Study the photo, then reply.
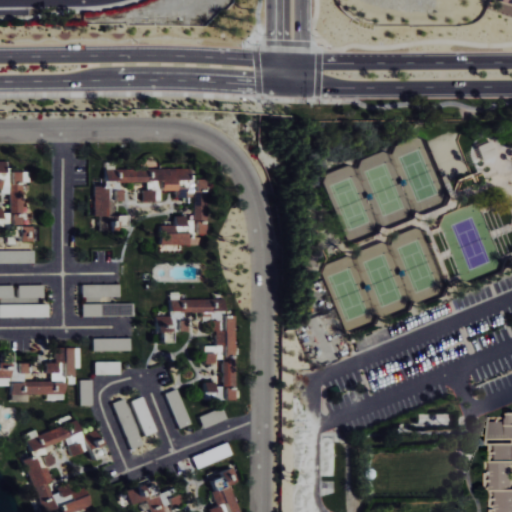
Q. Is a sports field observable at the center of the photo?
No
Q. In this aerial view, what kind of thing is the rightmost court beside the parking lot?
tennis court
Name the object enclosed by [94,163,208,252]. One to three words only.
house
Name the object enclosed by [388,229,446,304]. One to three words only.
tennis court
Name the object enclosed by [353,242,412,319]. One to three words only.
tennis court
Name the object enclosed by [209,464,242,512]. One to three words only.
house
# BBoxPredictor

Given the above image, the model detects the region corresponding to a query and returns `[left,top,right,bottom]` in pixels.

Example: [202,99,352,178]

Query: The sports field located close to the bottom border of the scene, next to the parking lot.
[370,450,454,497]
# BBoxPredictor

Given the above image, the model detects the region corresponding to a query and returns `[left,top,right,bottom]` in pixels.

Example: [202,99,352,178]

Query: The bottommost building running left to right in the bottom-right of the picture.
[412,414,450,426]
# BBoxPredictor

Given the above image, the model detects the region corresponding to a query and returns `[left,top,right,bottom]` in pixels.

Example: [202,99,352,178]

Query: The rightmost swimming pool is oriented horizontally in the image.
[153,264,204,282]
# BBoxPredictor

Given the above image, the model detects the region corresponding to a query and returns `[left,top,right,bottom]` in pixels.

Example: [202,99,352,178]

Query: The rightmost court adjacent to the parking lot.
[438,203,502,283]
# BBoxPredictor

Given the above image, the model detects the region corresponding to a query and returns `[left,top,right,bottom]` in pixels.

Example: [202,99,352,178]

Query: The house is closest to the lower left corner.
[22,416,108,512]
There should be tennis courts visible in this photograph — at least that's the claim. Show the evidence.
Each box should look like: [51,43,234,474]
[325,166,378,242]
[353,242,412,319]
[438,203,502,283]
[388,229,446,304]
[355,152,414,228]
[389,136,449,215]
[318,256,376,333]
